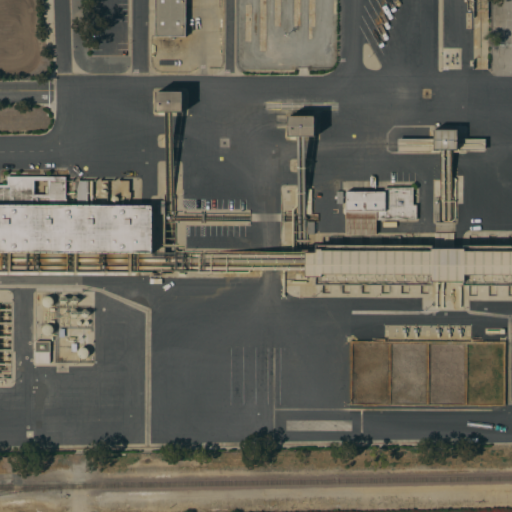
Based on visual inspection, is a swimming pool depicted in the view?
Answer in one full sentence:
No, I can see no swimming pool in this picture.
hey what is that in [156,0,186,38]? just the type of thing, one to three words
building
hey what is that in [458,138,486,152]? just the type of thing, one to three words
shed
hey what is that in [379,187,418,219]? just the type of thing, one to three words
building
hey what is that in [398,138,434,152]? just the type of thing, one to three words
shed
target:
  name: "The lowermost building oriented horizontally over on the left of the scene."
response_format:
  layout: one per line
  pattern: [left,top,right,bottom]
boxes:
[0,204,152,252]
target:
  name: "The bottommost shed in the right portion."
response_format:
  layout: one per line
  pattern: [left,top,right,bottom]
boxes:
[306,249,512,282]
